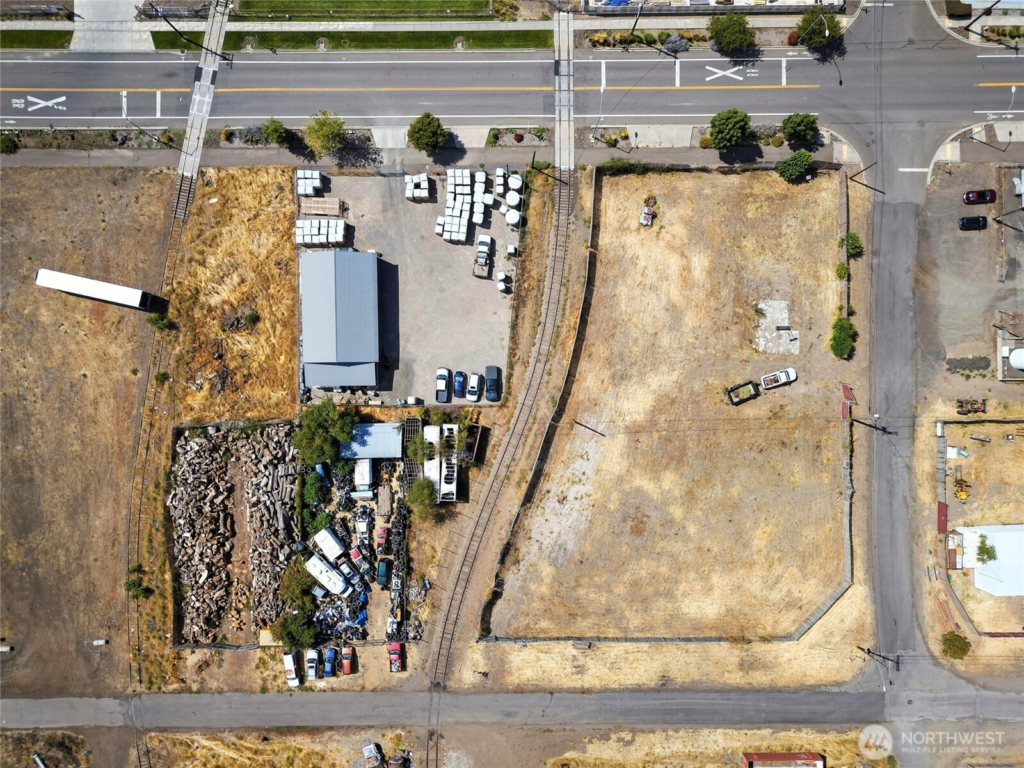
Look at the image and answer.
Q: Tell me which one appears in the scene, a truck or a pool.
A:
truck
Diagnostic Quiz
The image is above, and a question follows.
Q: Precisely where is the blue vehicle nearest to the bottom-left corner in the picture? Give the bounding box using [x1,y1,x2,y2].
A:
[321,649,336,680]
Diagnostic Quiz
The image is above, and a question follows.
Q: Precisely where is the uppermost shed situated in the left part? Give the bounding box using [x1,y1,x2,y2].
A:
[300,248,381,362]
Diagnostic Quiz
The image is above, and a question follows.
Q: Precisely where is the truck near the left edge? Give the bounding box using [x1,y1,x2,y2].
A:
[35,268,164,312]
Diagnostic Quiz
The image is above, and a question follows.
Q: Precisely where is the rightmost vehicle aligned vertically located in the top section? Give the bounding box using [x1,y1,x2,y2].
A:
[640,191,657,222]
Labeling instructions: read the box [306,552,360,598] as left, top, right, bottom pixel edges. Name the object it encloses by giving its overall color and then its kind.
white camper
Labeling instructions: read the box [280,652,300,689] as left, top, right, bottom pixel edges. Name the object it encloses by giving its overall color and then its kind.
white vehicle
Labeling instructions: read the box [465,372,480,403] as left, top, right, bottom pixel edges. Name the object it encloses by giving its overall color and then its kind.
white car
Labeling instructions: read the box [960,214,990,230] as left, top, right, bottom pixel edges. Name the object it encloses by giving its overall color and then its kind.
black car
